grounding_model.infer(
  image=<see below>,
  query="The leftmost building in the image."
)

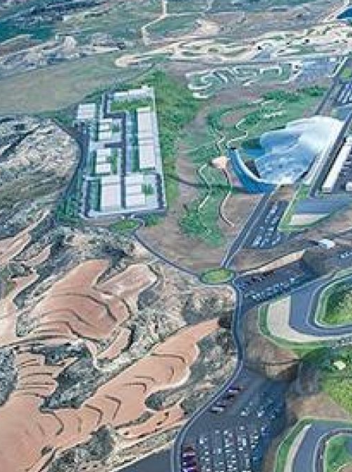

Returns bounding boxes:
[73,100,98,119]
